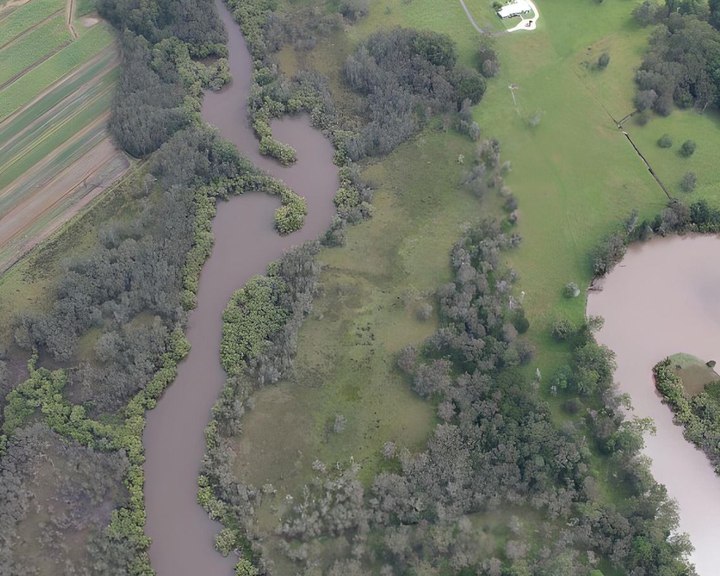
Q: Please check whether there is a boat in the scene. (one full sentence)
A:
No, there appears to be no boat in this shot.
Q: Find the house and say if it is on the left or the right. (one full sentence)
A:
You can find the house on the right side of the picture.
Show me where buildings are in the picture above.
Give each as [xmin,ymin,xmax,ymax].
[497,0,532,23]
